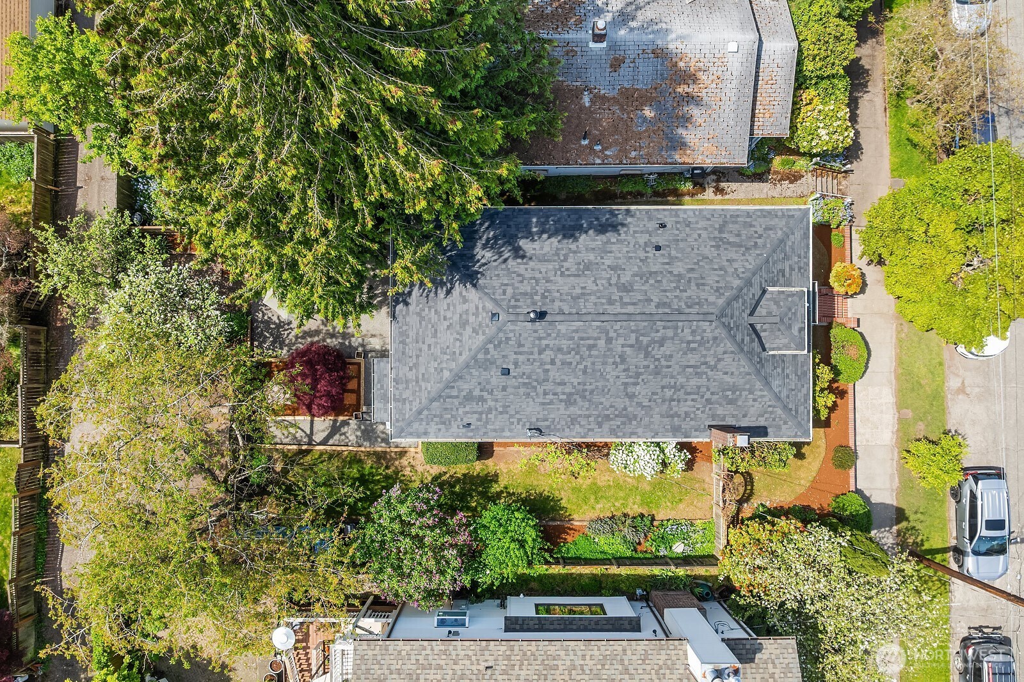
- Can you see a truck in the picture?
No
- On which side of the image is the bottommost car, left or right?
right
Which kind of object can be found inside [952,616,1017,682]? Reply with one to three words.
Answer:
car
